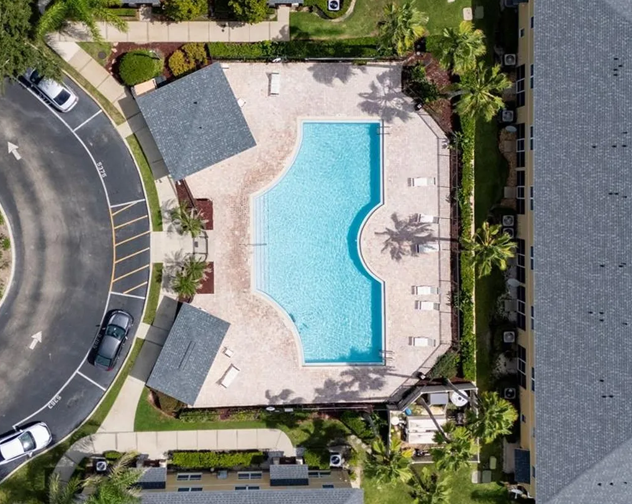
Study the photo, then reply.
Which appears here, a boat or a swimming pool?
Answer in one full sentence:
I can see a swimming pool in this picture.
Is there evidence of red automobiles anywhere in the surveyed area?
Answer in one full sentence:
No, I find no red automobile anywhere in the image.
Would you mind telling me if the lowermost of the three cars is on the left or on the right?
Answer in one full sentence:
The lowermost of the three cars sits on the left side.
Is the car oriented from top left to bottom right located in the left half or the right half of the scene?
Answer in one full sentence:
It is on the left.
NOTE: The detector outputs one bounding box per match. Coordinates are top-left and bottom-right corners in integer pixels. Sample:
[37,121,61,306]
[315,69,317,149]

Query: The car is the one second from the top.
[91,307,134,372]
